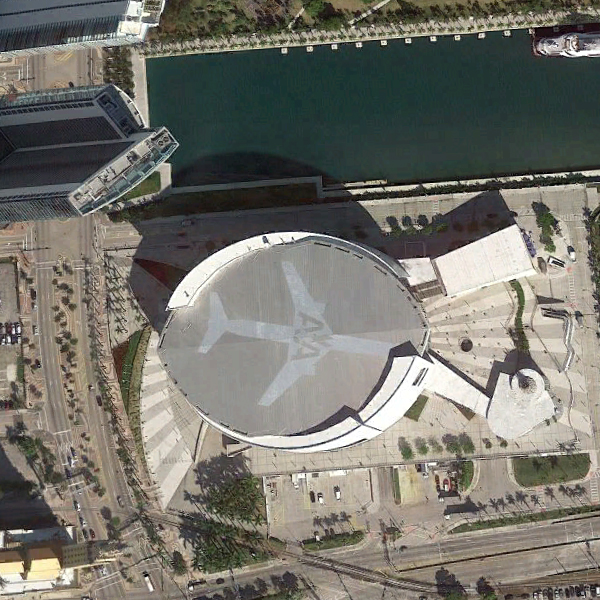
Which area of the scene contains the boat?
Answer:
top right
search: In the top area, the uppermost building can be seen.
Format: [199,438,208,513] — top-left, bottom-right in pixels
[0,0,166,80]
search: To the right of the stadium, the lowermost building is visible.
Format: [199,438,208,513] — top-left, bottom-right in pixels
[483,369,554,440]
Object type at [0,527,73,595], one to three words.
building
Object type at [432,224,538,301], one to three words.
building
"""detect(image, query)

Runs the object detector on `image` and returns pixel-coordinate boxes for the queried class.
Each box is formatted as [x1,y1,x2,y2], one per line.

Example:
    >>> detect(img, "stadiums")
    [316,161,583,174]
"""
[157,233,434,452]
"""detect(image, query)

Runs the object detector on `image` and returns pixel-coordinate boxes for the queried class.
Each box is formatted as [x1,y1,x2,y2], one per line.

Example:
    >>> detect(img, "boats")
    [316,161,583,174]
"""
[536,34,600,57]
